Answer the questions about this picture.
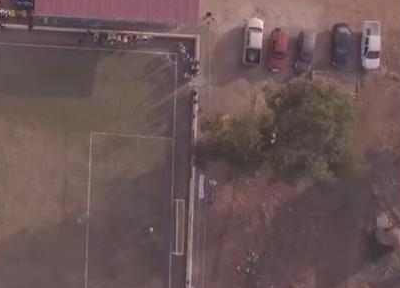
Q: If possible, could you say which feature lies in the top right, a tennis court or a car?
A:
car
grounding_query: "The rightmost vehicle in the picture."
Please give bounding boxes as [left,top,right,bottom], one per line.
[357,20,383,72]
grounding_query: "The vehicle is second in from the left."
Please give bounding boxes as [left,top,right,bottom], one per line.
[265,30,288,73]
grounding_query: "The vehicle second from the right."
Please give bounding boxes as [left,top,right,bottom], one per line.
[328,23,353,69]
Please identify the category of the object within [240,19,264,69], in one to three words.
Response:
truck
